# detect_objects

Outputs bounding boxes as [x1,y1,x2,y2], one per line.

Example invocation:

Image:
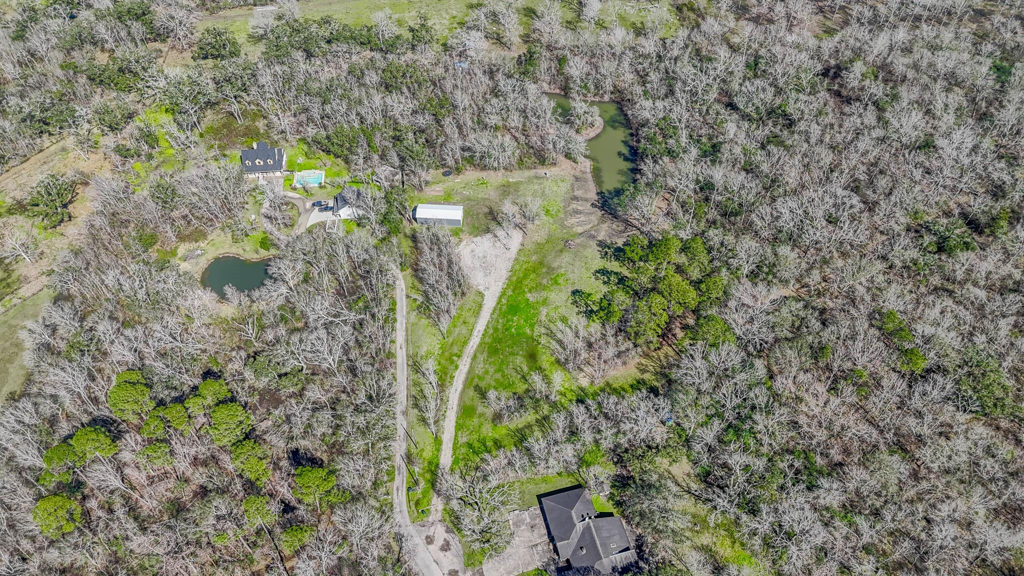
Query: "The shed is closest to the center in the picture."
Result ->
[416,204,464,227]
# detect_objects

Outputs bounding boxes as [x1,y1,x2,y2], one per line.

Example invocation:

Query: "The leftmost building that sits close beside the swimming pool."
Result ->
[243,138,289,182]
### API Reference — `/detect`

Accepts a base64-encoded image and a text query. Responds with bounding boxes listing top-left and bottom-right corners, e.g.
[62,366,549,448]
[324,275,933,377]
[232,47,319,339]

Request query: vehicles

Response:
[316,204,334,212]
[311,199,329,207]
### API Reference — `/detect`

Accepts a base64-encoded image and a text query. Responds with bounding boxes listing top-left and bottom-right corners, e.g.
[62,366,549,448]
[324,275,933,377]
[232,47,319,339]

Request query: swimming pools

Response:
[293,171,326,188]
